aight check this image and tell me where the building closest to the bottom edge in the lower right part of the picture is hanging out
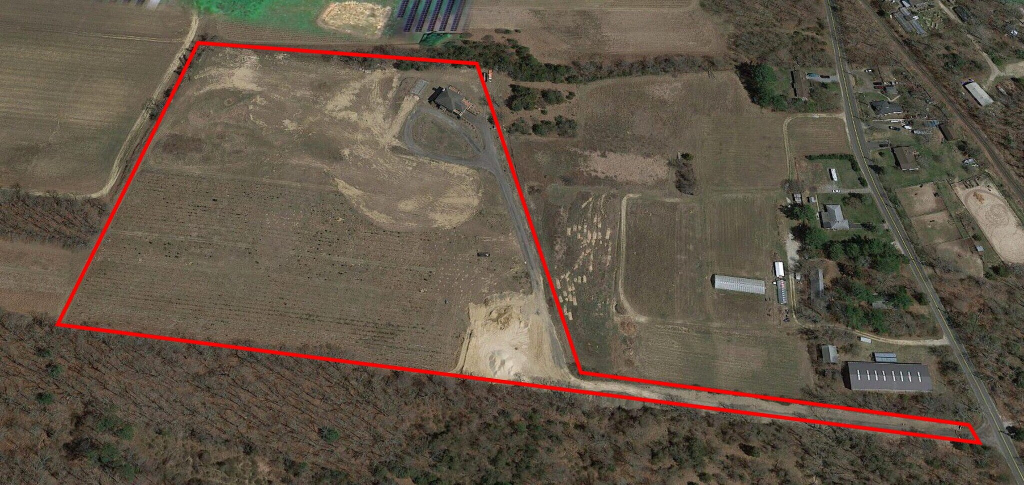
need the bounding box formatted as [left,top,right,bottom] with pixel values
[845,363,932,394]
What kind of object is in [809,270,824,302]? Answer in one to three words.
house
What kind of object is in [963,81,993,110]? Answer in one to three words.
building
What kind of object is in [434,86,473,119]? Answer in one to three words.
house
